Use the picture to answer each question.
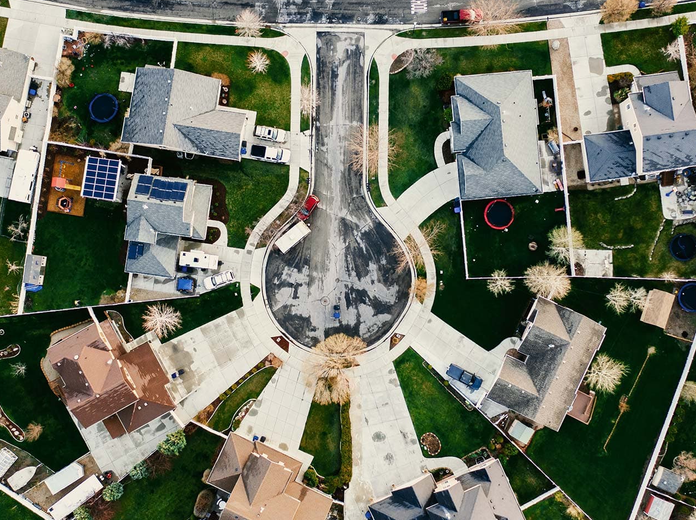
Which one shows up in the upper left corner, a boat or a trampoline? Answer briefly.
trampoline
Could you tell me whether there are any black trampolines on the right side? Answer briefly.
Yes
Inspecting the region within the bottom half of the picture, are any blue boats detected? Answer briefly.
No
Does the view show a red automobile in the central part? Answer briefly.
Yes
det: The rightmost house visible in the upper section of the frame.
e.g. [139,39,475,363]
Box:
[580,71,696,182]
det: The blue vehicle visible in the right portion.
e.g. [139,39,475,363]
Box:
[445,363,483,390]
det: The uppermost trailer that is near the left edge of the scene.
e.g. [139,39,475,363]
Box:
[10,147,44,204]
